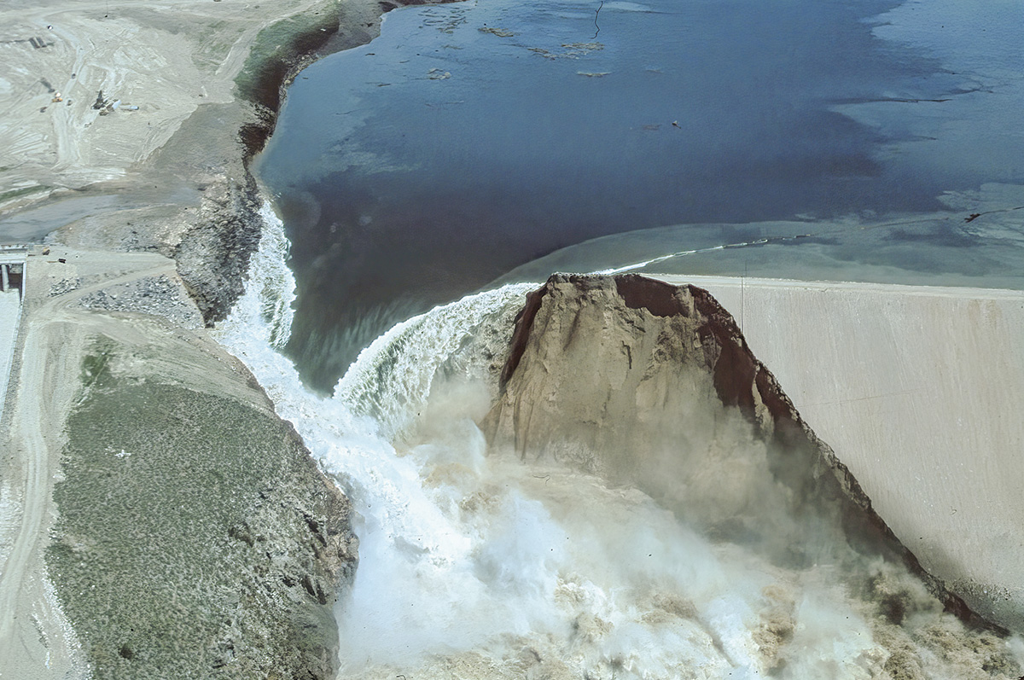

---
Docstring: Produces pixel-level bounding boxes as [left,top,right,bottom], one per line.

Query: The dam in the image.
[483,269,1024,647]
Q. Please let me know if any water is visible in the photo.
Yes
